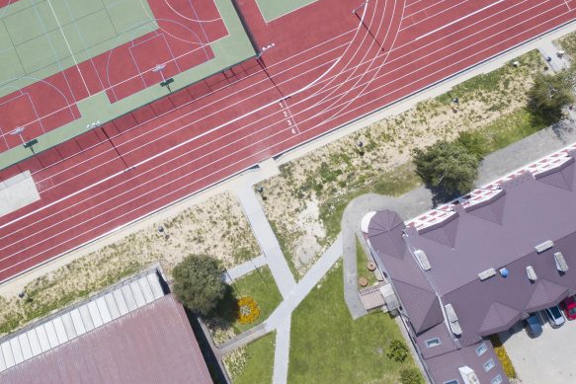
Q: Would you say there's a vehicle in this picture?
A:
Yes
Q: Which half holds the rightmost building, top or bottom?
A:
bottom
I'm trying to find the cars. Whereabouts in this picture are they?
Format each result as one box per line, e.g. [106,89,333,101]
[543,302,569,334]
[560,294,576,324]
[520,313,546,345]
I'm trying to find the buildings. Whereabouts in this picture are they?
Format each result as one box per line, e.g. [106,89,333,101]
[0,266,213,384]
[355,141,576,384]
